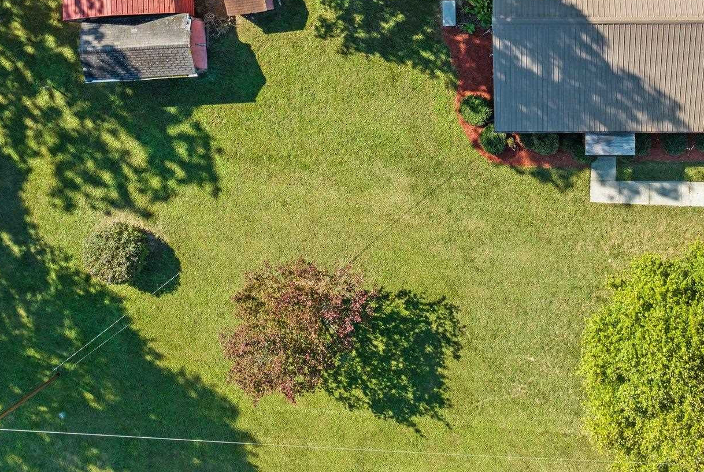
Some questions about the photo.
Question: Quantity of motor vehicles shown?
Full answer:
The count of motor vehicles is 0.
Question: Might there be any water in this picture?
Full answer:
No, there's no water in this view.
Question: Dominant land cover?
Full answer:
The bulk of the photo consists of grass.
